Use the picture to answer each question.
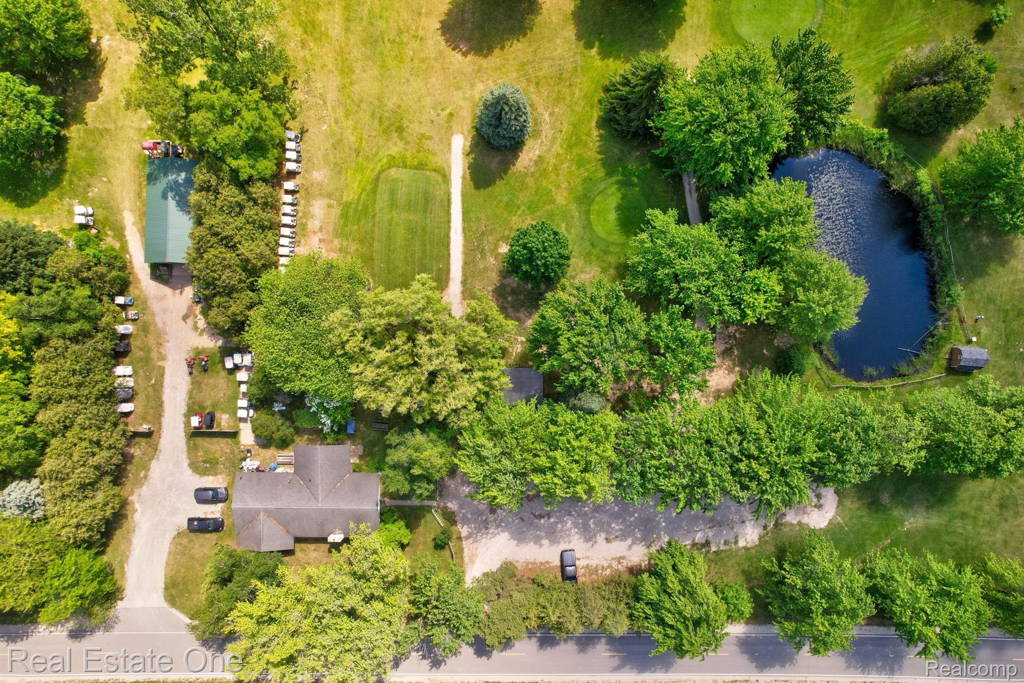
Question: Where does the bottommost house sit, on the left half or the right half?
left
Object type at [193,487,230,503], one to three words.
car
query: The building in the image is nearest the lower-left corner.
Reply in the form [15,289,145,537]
[231,445,392,551]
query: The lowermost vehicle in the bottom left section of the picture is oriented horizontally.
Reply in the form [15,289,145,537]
[187,516,225,533]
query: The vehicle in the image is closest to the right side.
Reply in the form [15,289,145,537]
[562,547,578,585]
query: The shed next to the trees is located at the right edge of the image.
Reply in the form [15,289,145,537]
[940,347,992,370]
